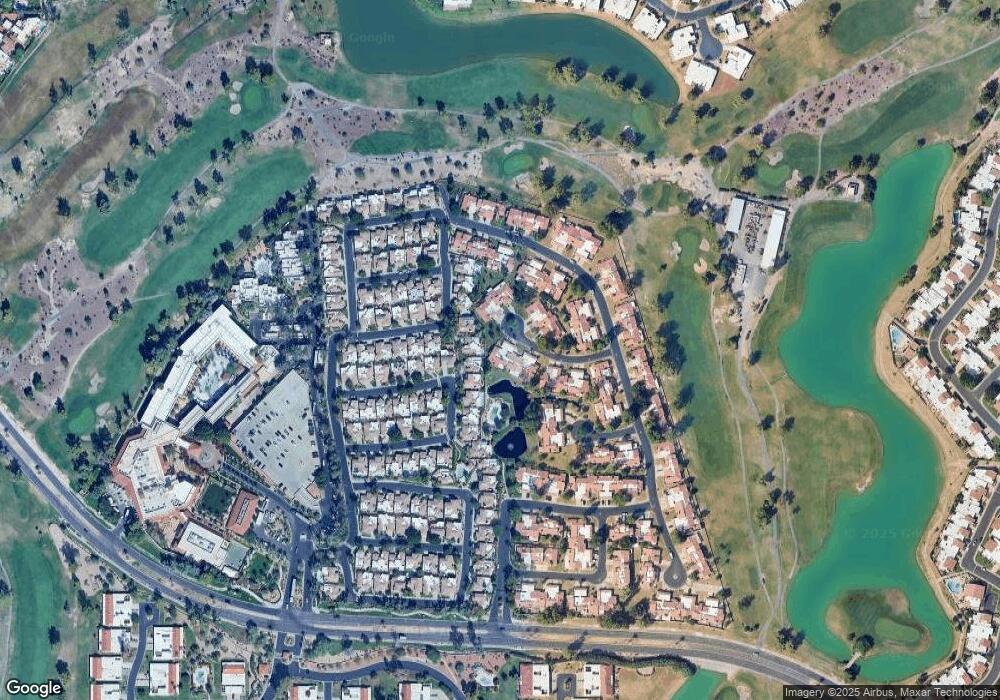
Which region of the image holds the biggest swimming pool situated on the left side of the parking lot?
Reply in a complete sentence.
The biggest swimming pool situated on the left side of the parking lot is in the left part of the image.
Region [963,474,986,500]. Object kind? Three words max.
house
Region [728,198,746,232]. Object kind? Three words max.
shed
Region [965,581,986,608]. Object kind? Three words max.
building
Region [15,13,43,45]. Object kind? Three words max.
house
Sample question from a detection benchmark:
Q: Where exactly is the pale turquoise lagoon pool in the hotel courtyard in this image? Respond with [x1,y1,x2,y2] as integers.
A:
[191,350,230,404]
